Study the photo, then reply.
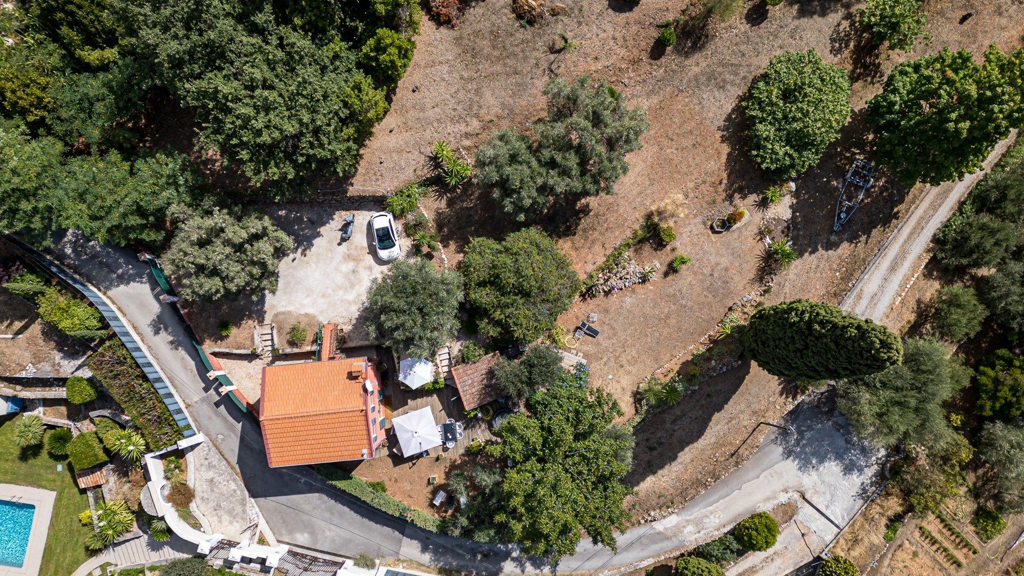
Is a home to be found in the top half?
No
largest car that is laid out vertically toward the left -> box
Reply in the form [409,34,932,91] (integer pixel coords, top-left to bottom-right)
[371,211,403,264]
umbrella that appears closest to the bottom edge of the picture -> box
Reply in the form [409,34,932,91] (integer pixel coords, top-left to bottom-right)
[392,406,442,461]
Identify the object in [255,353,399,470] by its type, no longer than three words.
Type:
house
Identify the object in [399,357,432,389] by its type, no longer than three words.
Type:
umbrella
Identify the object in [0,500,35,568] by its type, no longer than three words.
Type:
swimming pool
